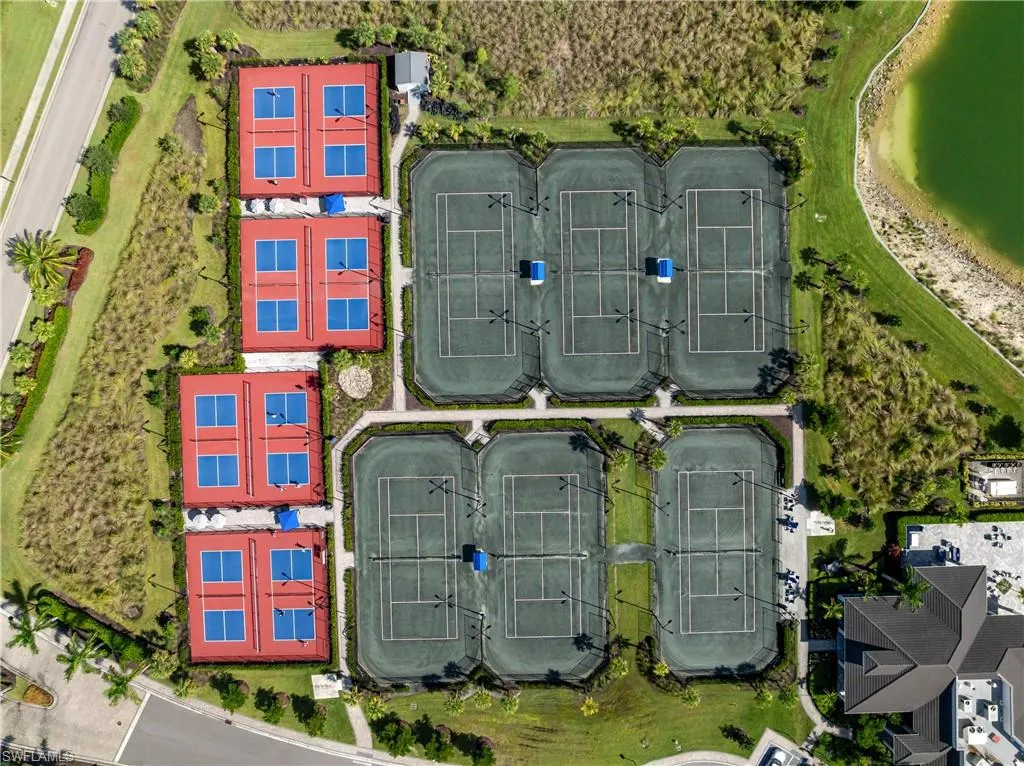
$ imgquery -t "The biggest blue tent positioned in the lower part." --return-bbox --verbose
[278,506,305,531]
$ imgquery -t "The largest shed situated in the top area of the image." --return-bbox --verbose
[395,52,429,94]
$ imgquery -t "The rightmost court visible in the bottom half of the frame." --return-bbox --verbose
[653,426,779,675]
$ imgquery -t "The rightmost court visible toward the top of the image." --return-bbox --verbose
[661,146,792,397]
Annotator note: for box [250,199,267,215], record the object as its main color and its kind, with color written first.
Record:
white umbrella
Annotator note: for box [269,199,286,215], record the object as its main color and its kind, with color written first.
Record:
white umbrella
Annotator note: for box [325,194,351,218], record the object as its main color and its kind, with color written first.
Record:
blue tent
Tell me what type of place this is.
sports ground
